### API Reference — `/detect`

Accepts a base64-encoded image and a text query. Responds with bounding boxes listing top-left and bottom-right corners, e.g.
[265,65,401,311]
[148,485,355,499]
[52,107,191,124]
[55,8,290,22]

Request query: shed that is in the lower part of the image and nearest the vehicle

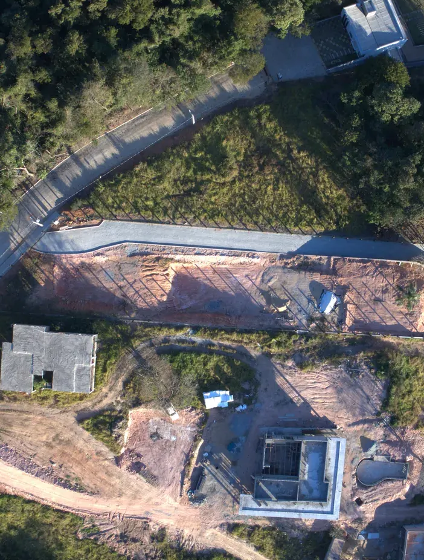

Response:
[203,391,234,408]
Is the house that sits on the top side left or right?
right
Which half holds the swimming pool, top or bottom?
bottom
